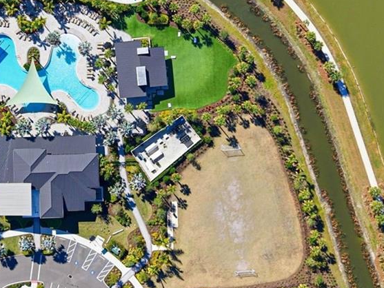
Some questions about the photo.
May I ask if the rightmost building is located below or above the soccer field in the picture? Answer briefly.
above it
